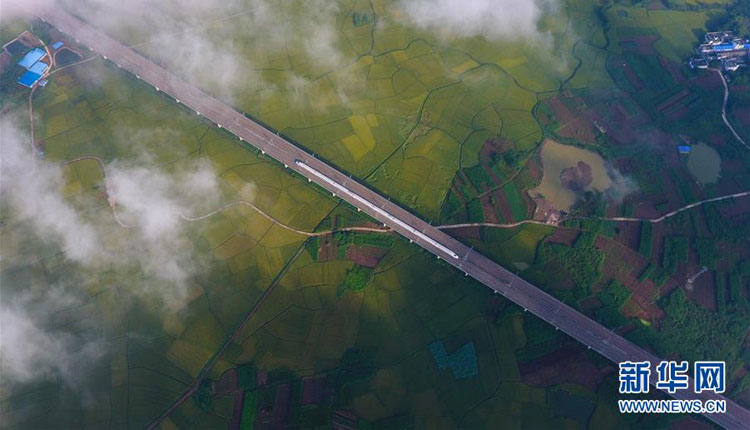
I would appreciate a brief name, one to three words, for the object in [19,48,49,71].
shed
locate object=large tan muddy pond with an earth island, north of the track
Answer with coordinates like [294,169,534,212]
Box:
[532,141,609,210]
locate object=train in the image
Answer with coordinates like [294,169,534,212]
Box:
[297,161,460,259]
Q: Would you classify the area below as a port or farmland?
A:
farmland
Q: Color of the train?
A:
white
